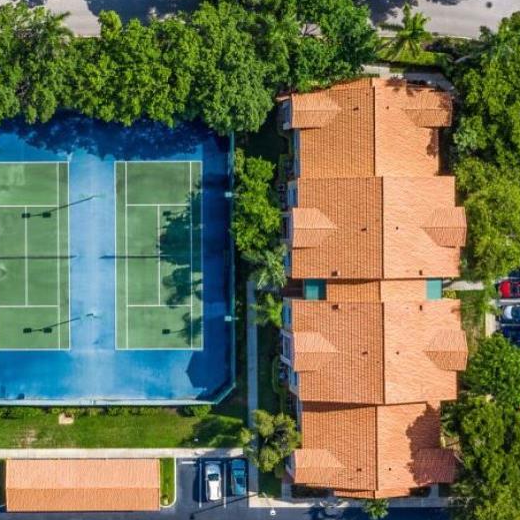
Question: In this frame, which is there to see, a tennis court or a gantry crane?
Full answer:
Of the two, only a tennis court appears.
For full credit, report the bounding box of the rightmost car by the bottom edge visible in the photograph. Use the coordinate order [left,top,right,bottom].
[230,458,248,496]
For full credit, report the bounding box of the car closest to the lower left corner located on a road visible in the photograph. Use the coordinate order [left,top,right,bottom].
[205,461,223,500]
